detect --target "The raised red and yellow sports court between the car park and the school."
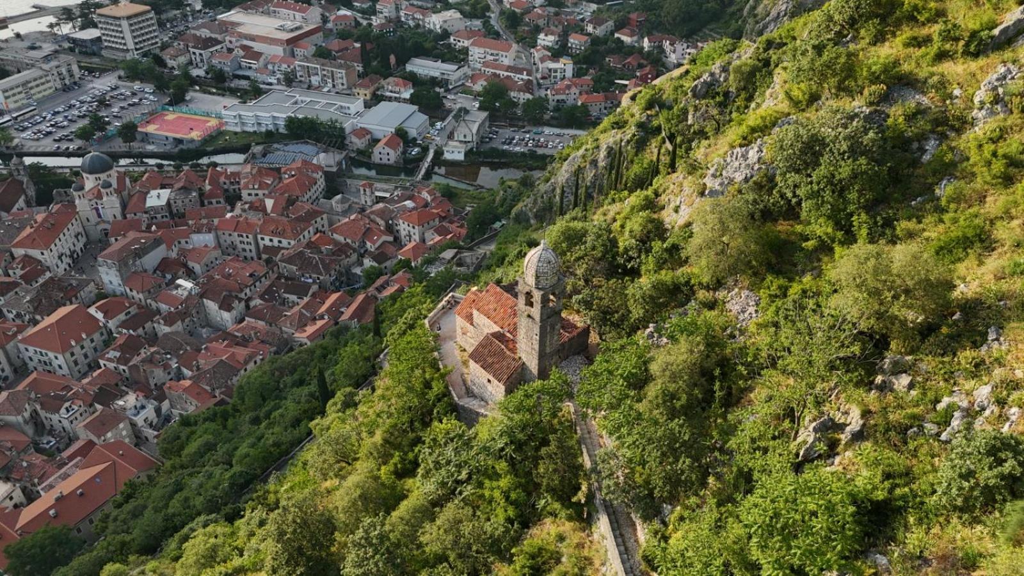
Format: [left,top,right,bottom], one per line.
[135,107,231,148]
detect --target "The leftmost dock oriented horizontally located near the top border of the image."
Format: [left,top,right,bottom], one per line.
[0,2,90,28]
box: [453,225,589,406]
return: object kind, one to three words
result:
church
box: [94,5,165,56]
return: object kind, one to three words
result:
building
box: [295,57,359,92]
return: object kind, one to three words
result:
building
